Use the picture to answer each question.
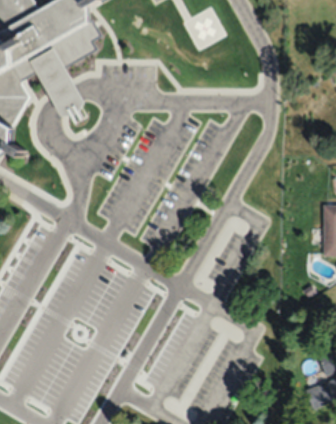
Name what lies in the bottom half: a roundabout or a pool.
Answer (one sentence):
You can see a pool in the bottom half.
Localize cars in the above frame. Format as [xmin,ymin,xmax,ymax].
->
[184,124,194,132]
[74,254,85,262]
[188,118,198,126]
[140,138,150,146]
[175,175,186,182]
[178,170,188,178]
[104,266,116,274]
[120,173,130,182]
[102,172,113,179]
[123,128,134,136]
[148,222,158,230]
[98,276,109,284]
[132,303,143,311]
[131,156,142,164]
[107,156,118,164]
[145,132,155,140]
[120,140,130,148]
[163,200,174,208]
[168,193,178,201]
[214,258,226,266]
[191,152,202,161]
[122,64,128,74]
[122,167,133,174]
[120,348,128,359]
[104,162,114,170]
[158,212,168,220]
